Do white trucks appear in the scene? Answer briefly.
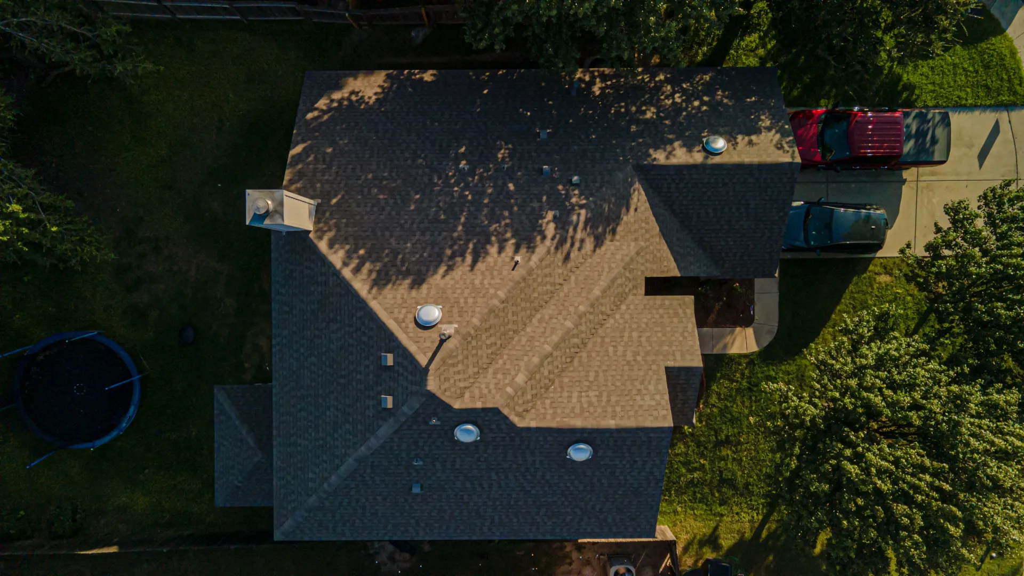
No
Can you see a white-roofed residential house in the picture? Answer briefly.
No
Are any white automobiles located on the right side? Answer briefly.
No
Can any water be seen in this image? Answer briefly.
No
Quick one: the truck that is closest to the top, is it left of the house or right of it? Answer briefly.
right of it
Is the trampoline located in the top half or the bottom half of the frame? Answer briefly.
bottom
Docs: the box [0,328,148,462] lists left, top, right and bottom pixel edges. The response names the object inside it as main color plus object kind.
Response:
black trampoline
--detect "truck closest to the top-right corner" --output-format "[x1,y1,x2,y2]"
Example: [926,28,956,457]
[788,100,952,174]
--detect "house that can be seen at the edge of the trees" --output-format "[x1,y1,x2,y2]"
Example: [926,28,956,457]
[214,66,800,542]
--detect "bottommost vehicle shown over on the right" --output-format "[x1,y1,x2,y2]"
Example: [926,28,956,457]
[783,195,887,257]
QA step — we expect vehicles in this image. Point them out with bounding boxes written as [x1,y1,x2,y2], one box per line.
[783,195,887,257]
[788,100,952,174]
